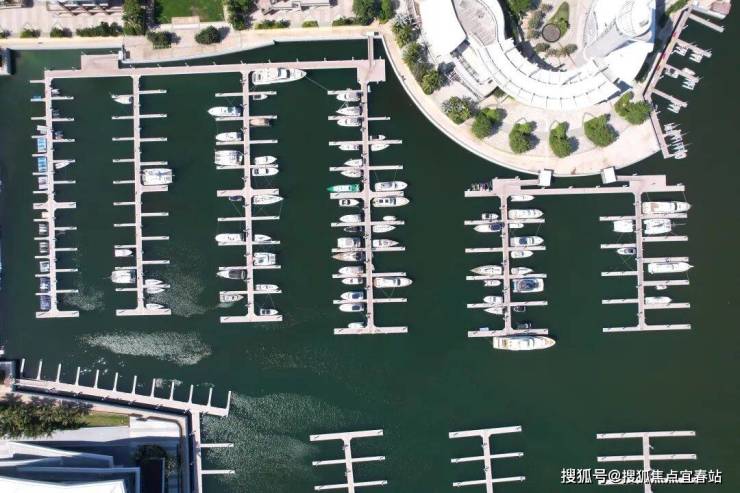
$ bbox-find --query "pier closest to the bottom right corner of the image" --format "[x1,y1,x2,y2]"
[596,430,697,493]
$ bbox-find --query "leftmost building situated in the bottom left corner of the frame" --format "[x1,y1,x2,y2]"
[0,435,142,493]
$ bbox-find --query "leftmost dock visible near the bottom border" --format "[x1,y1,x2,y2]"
[16,359,236,493]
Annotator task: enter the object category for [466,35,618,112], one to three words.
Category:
building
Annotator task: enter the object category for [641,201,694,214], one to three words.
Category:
boat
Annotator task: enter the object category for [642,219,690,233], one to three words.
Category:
boat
